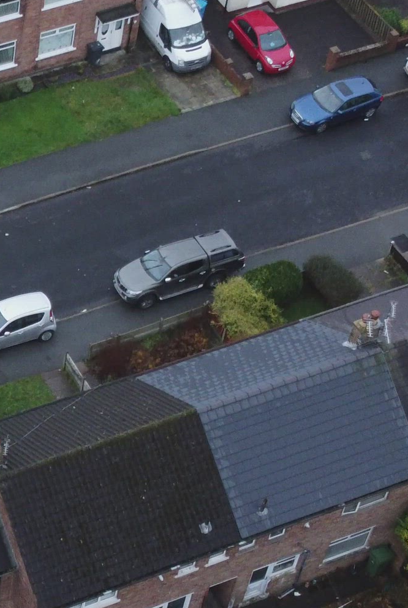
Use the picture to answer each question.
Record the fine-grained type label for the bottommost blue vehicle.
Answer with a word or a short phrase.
automobile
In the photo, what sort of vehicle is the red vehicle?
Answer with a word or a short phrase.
car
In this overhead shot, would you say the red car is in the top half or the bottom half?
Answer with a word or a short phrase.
top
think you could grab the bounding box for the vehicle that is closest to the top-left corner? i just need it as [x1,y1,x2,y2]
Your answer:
[138,0,211,77]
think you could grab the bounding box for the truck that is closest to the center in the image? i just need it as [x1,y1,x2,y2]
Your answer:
[113,229,241,312]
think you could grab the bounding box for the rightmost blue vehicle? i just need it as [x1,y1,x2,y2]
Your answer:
[288,73,385,134]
